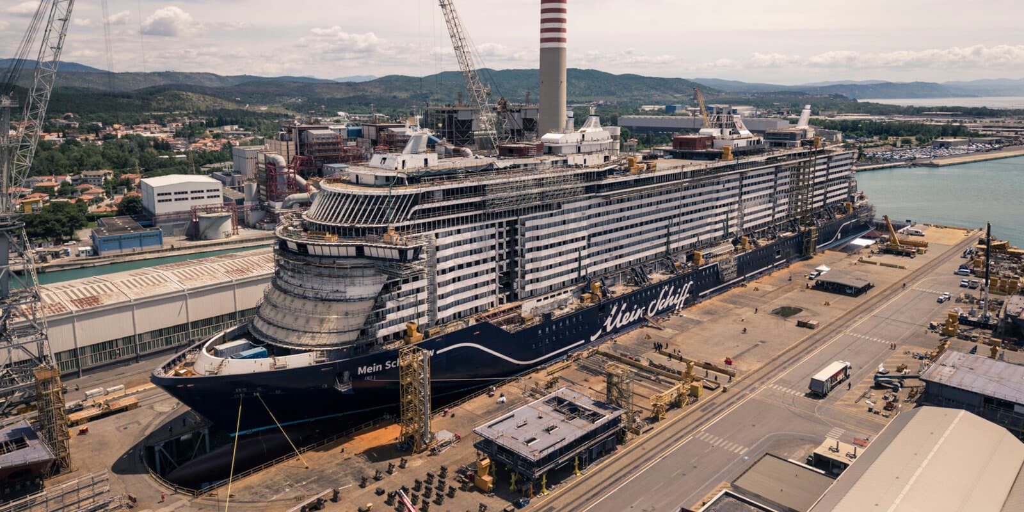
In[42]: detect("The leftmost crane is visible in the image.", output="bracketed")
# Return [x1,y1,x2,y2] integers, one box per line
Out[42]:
[0,0,150,429]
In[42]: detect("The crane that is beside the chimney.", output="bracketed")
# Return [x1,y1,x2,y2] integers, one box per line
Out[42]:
[418,0,518,141]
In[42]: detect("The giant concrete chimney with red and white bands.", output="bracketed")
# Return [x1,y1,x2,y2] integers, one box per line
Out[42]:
[539,0,567,128]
